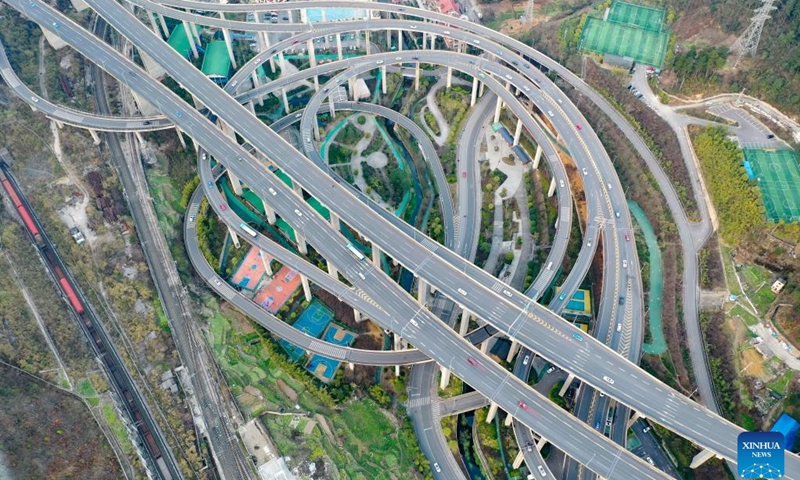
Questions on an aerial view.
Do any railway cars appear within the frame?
Yes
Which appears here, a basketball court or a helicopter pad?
basketball court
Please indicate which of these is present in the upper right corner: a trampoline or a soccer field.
soccer field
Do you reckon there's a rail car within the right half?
No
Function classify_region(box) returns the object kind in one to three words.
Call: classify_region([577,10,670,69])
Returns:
soccer field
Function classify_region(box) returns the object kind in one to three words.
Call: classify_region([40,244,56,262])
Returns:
rail car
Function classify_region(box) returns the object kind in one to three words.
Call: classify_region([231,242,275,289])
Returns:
basketball court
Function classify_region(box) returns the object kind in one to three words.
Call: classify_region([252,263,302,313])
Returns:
basketball court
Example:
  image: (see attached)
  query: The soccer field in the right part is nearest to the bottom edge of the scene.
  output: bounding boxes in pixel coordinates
[743,144,800,221]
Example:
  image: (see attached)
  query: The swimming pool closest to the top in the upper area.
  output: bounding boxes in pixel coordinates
[300,0,370,22]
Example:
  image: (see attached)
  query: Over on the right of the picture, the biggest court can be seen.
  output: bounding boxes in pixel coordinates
[555,283,594,313]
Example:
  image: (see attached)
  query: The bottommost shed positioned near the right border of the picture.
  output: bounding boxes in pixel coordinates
[767,412,800,450]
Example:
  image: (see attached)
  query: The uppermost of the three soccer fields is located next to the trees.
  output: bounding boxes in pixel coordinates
[609,0,666,32]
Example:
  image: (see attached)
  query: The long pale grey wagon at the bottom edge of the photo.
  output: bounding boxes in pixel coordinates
[153,454,175,480]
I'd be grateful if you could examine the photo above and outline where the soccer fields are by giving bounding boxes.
[743,144,800,221]
[609,0,666,32]
[577,10,670,69]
